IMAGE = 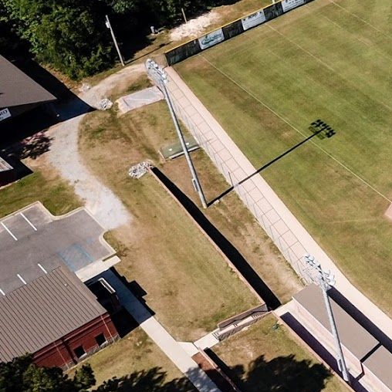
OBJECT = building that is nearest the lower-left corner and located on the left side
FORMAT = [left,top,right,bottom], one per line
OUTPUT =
[0,264,122,392]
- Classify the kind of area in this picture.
sports ground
